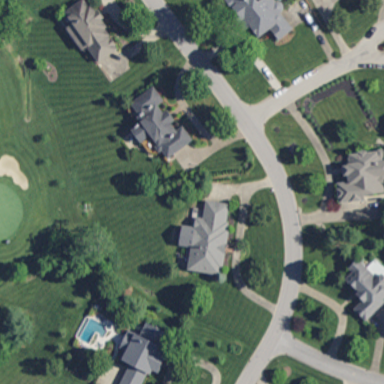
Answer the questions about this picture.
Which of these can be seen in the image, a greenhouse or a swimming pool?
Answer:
swimming pool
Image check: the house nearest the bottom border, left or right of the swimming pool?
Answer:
to its right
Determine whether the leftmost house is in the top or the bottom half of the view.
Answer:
top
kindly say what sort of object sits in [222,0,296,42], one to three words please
house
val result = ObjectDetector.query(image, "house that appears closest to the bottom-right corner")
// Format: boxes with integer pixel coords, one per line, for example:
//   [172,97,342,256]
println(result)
[345,258,384,325]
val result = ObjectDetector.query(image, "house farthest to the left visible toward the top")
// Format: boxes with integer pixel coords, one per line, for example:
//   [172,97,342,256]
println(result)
[63,0,114,64]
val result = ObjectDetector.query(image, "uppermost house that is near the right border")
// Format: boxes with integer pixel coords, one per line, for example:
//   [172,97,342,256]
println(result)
[330,146,384,209]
